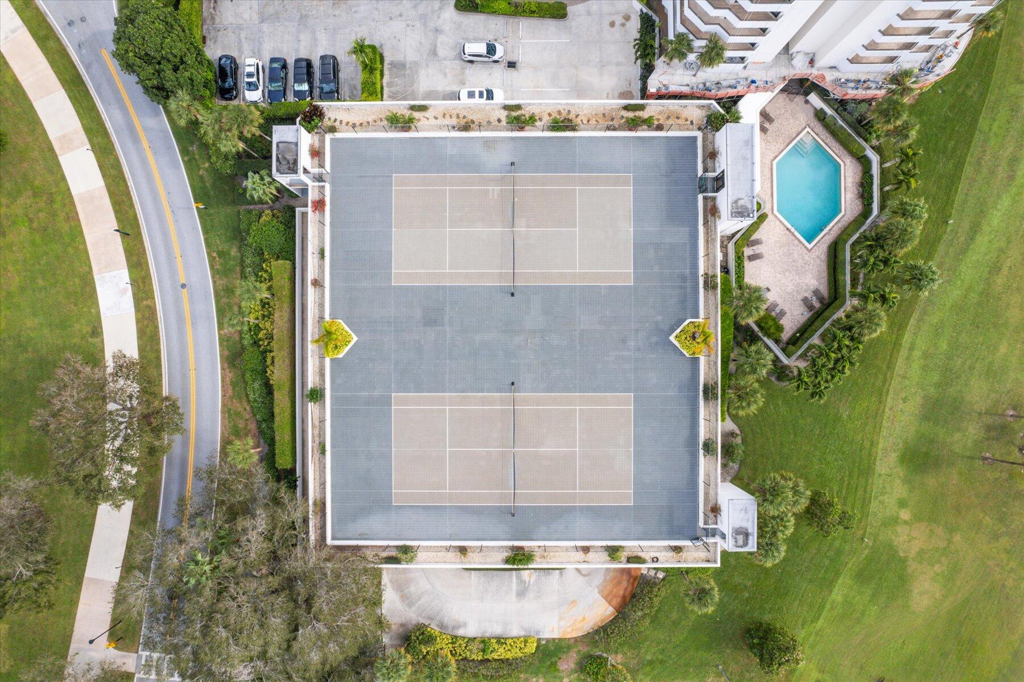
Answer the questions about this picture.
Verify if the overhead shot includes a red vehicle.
No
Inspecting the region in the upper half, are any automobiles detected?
Yes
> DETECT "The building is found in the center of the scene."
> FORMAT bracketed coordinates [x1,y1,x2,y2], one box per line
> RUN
[273,101,757,566]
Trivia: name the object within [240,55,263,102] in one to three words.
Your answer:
car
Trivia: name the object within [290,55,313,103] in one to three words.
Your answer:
car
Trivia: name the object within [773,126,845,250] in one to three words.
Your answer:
swimming pool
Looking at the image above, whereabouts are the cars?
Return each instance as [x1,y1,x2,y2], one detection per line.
[457,82,504,101]
[214,53,237,100]
[290,55,313,103]
[316,52,339,101]
[461,39,504,61]
[265,55,287,103]
[240,55,263,102]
